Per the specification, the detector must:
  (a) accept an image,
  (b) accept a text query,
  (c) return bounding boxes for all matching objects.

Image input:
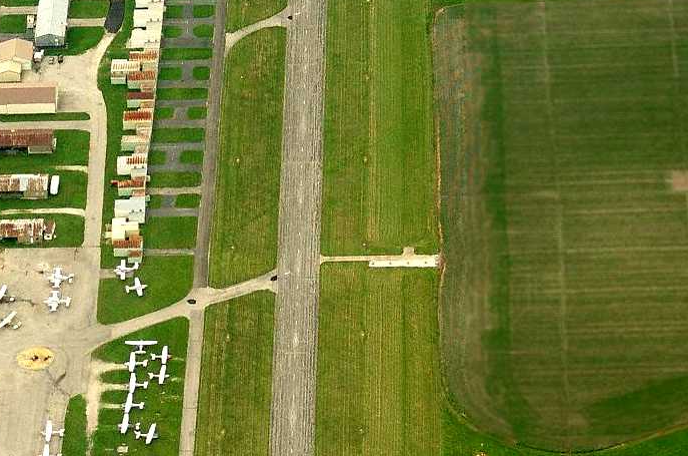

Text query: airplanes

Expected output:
[137,424,159,444]
[46,290,72,311]
[123,351,147,371]
[40,420,63,441]
[48,267,74,286]
[149,365,169,383]
[0,285,14,300]
[152,346,172,364]
[125,372,148,393]
[39,444,61,456]
[125,337,157,353]
[115,261,137,278]
[120,393,144,414]
[119,414,140,433]
[0,311,21,329]
[123,278,147,294]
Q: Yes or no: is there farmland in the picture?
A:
Yes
